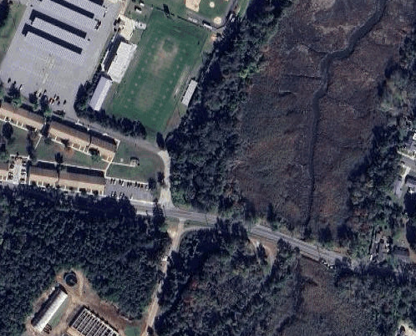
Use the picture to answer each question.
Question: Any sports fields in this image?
Yes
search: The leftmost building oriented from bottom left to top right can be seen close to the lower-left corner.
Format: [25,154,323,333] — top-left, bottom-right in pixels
[32,290,68,333]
